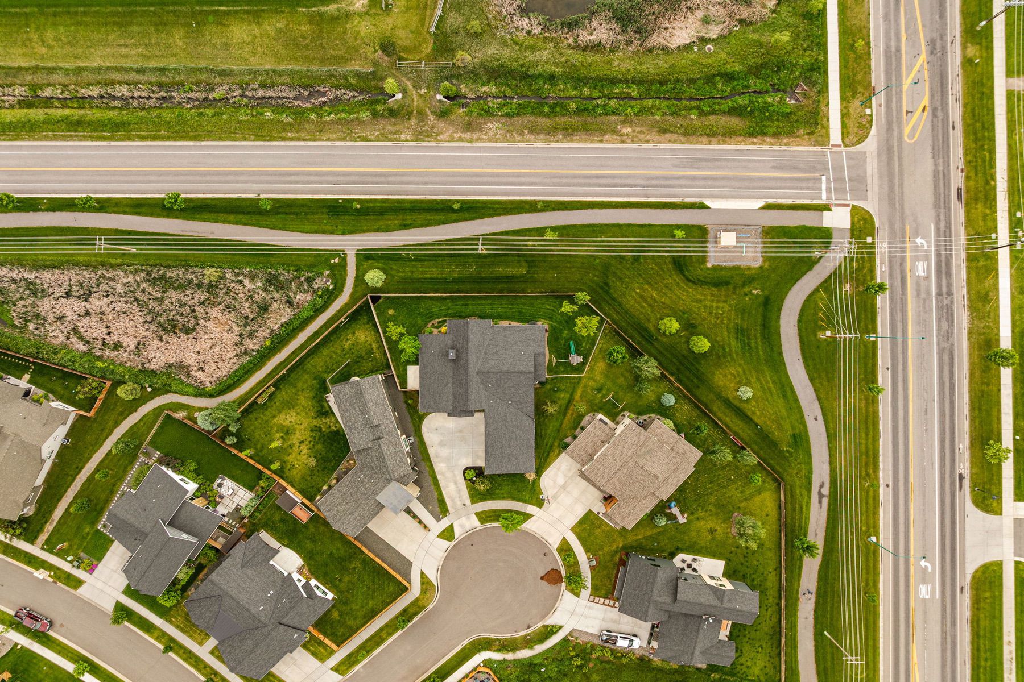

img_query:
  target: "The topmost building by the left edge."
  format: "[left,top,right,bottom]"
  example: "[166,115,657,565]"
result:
[0,371,85,520]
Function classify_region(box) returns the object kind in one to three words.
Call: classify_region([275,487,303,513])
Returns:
shed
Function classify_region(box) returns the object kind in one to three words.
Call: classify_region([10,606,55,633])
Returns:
truck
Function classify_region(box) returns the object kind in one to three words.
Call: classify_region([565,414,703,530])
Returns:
house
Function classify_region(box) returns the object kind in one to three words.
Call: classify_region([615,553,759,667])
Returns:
house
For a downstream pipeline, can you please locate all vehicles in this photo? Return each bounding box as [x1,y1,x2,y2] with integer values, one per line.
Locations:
[10,606,55,633]
[597,630,639,650]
